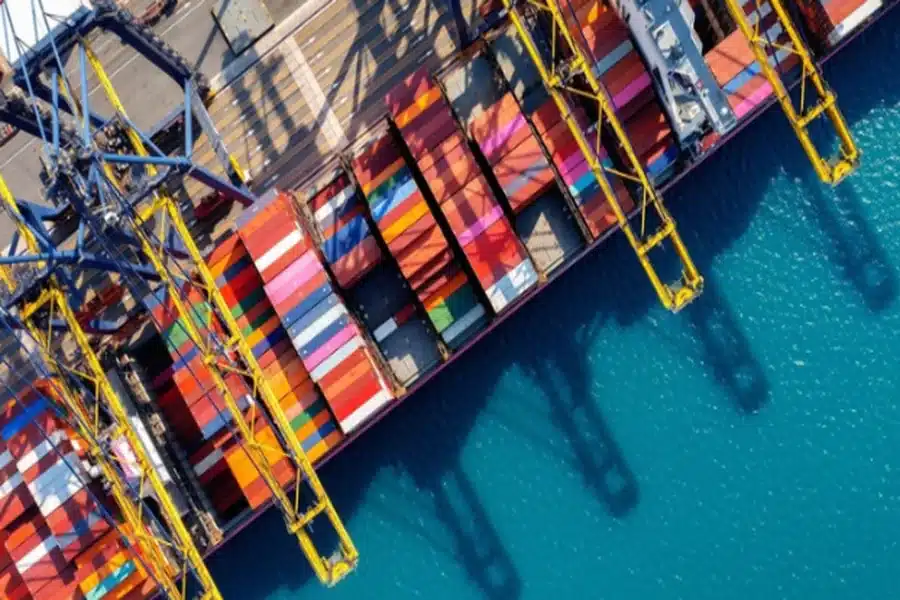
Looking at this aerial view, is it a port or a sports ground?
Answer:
port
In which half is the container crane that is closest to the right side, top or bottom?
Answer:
top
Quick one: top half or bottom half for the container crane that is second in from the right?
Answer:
top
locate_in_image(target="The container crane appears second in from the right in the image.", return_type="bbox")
[433,0,712,317]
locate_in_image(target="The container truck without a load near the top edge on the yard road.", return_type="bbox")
[134,0,169,25]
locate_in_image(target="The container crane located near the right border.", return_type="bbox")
[733,0,873,192]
